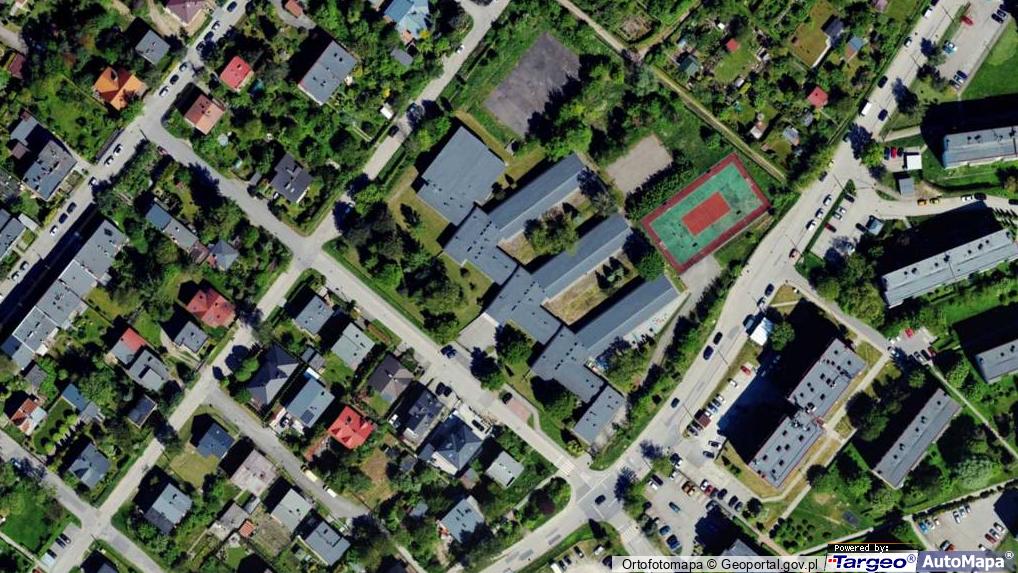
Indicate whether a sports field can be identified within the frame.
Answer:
Yes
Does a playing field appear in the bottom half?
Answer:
No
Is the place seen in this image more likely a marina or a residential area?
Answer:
residential area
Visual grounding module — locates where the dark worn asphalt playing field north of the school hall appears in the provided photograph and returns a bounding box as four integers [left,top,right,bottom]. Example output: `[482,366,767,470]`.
[484,32,581,137]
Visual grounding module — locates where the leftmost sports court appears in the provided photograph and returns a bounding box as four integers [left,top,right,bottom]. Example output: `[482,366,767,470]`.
[605,134,673,199]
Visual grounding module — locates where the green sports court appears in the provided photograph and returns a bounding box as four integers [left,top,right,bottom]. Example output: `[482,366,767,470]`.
[641,152,771,274]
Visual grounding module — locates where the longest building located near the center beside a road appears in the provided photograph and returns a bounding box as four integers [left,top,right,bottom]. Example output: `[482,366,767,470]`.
[417,125,680,445]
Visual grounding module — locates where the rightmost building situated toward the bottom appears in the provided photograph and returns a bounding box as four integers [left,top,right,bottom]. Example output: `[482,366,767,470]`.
[973,340,1018,383]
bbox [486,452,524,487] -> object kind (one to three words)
house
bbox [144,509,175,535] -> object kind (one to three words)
shed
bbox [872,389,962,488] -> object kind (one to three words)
building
